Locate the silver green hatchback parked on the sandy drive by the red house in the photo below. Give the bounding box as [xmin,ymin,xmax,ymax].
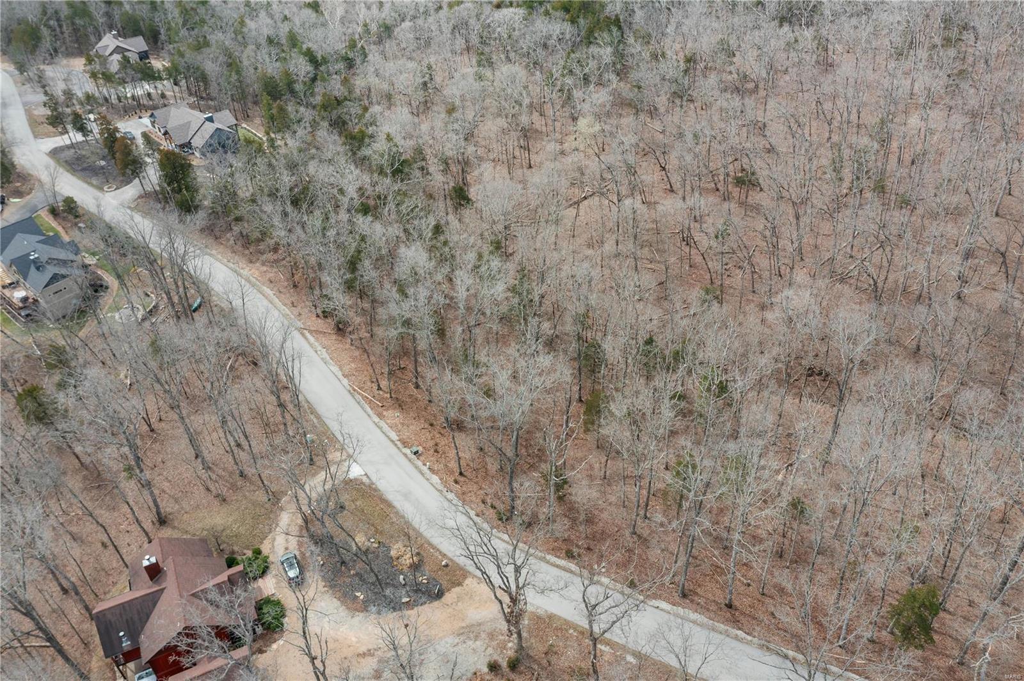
[277,550,307,591]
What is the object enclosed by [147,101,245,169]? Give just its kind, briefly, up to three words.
house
